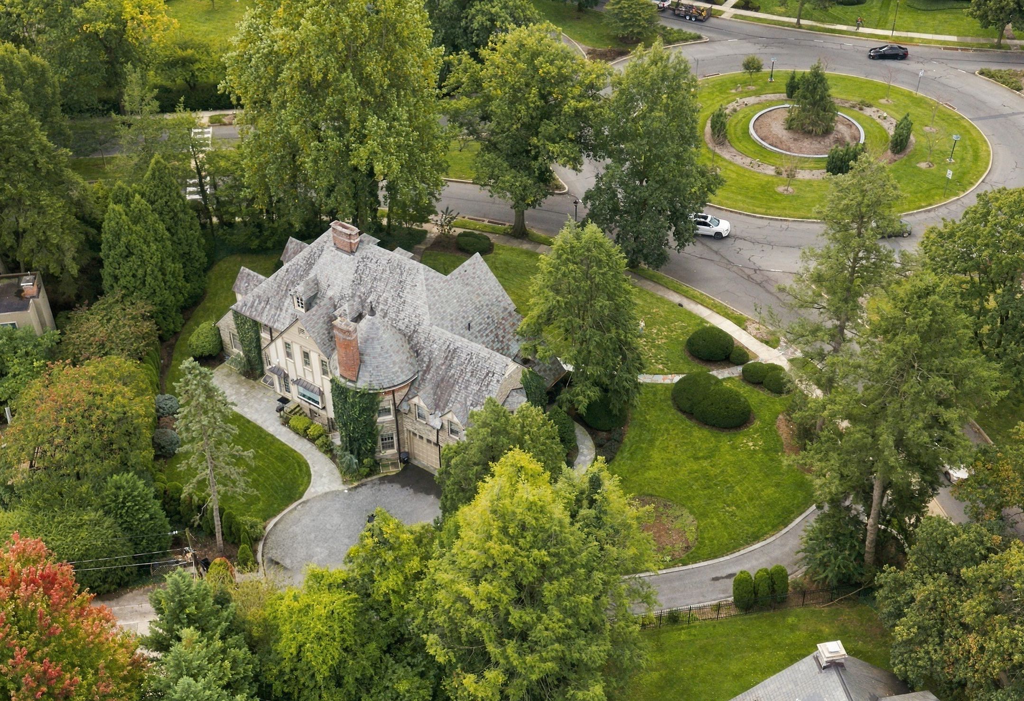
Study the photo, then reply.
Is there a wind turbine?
No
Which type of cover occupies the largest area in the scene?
trees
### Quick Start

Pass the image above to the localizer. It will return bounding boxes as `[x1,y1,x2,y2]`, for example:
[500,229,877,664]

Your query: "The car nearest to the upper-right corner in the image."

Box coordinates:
[865,43,909,60]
